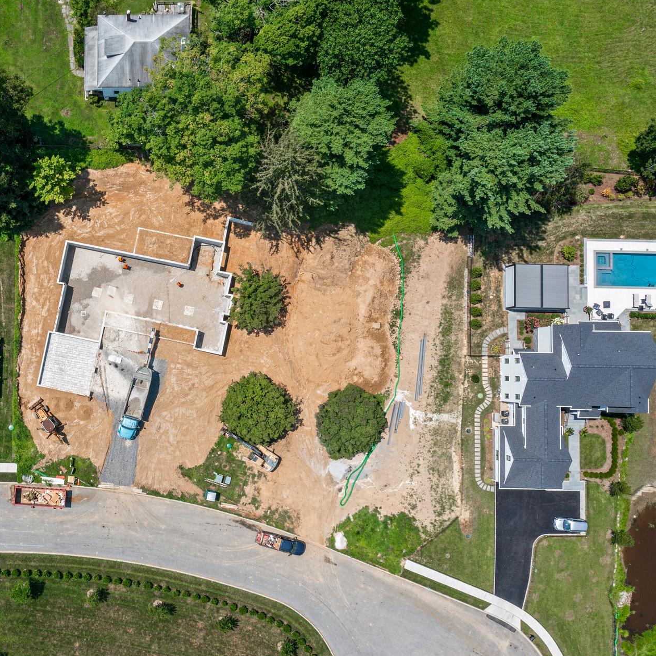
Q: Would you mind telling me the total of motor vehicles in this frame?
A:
5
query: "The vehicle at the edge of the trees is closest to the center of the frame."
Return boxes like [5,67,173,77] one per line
[225,428,283,473]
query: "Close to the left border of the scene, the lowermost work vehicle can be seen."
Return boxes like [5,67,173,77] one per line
[26,393,62,444]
